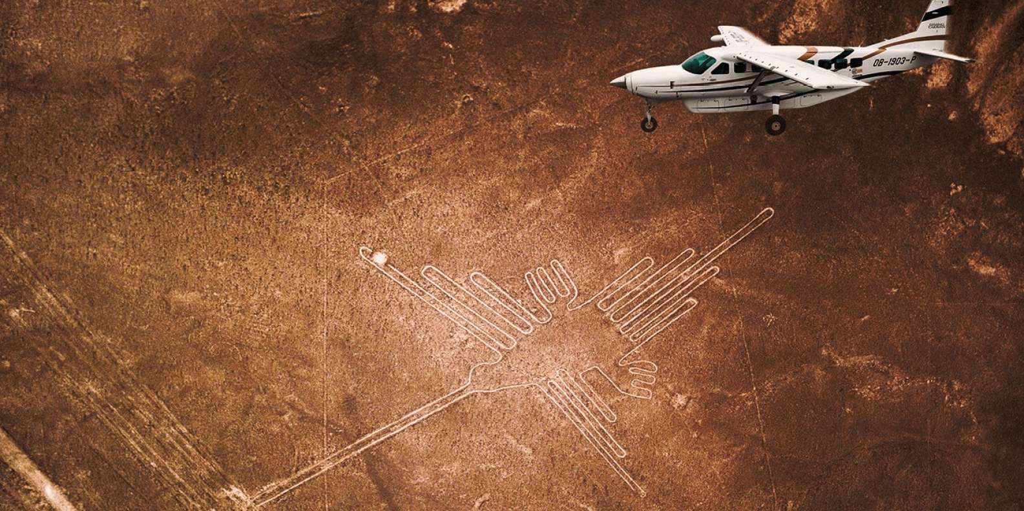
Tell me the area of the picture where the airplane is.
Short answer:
top right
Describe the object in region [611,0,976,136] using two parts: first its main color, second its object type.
white airplane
